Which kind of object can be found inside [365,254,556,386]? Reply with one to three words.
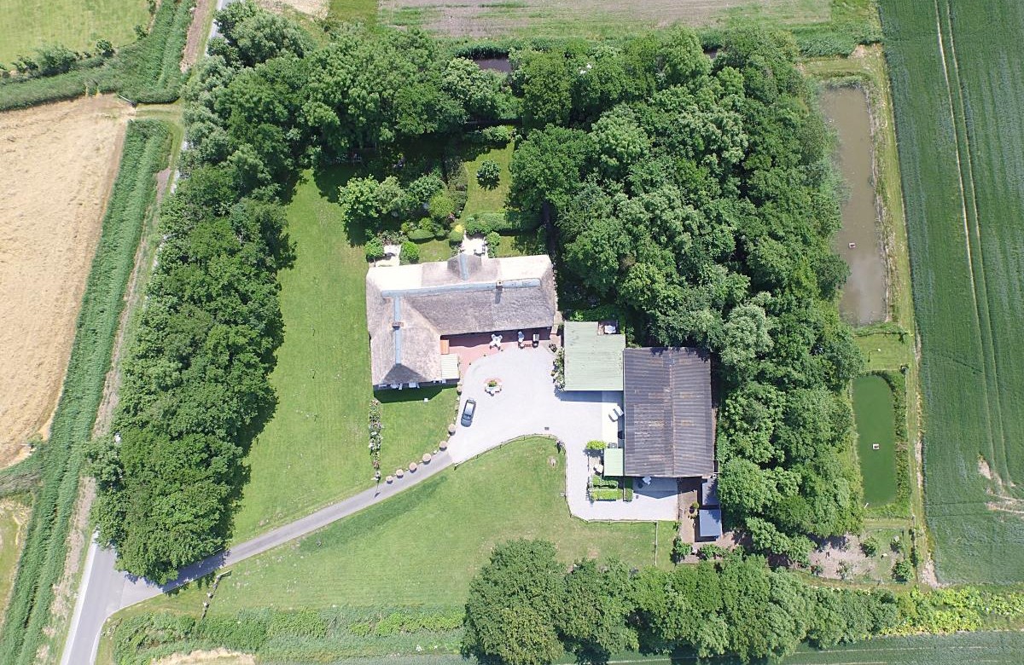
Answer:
house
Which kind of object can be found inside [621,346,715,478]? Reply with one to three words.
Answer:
barn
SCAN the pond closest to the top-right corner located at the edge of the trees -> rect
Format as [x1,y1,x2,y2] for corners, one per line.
[815,86,888,326]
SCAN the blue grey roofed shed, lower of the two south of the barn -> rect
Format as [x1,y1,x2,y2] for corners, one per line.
[696,510,721,537]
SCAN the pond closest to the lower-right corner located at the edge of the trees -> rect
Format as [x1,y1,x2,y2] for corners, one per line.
[853,373,898,508]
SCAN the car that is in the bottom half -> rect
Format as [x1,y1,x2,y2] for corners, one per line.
[459,399,475,428]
